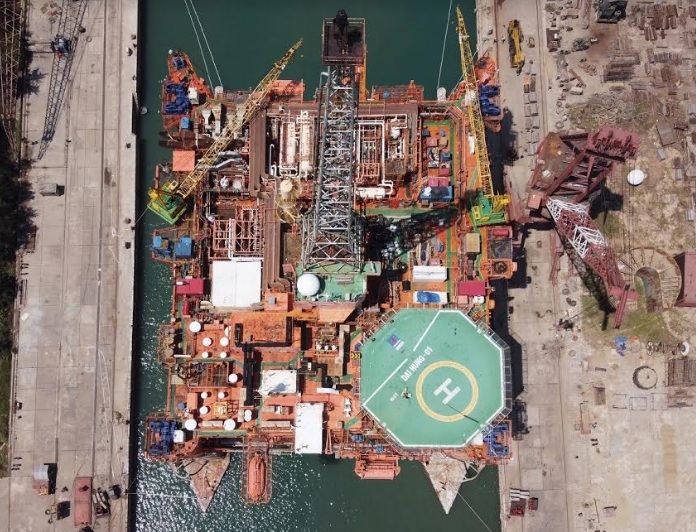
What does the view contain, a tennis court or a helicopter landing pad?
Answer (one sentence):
The one in the frame is a helicopter landing pad.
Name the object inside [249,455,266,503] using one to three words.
boat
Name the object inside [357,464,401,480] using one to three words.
boat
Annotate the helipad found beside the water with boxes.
[350,304,513,454]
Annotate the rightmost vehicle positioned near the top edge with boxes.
[597,1,625,24]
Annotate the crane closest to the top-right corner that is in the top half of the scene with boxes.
[504,16,525,74]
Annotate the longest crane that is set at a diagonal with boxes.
[143,37,306,229]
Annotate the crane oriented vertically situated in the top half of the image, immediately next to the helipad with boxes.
[453,5,515,231]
